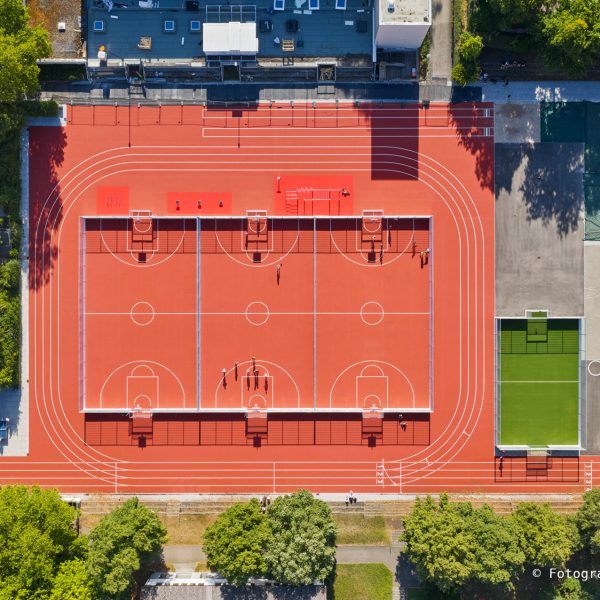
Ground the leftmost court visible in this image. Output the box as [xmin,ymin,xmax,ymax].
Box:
[86,218,197,410]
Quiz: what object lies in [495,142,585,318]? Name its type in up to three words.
sports court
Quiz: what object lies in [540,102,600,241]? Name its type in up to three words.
sports court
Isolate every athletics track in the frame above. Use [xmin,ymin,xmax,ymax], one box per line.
[0,103,600,494]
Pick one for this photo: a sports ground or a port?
sports ground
